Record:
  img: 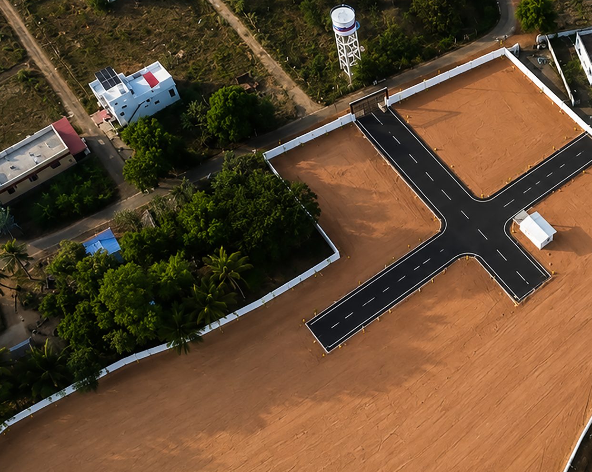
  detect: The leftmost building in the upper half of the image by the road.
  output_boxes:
[0,119,93,201]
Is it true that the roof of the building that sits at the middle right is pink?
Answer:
No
